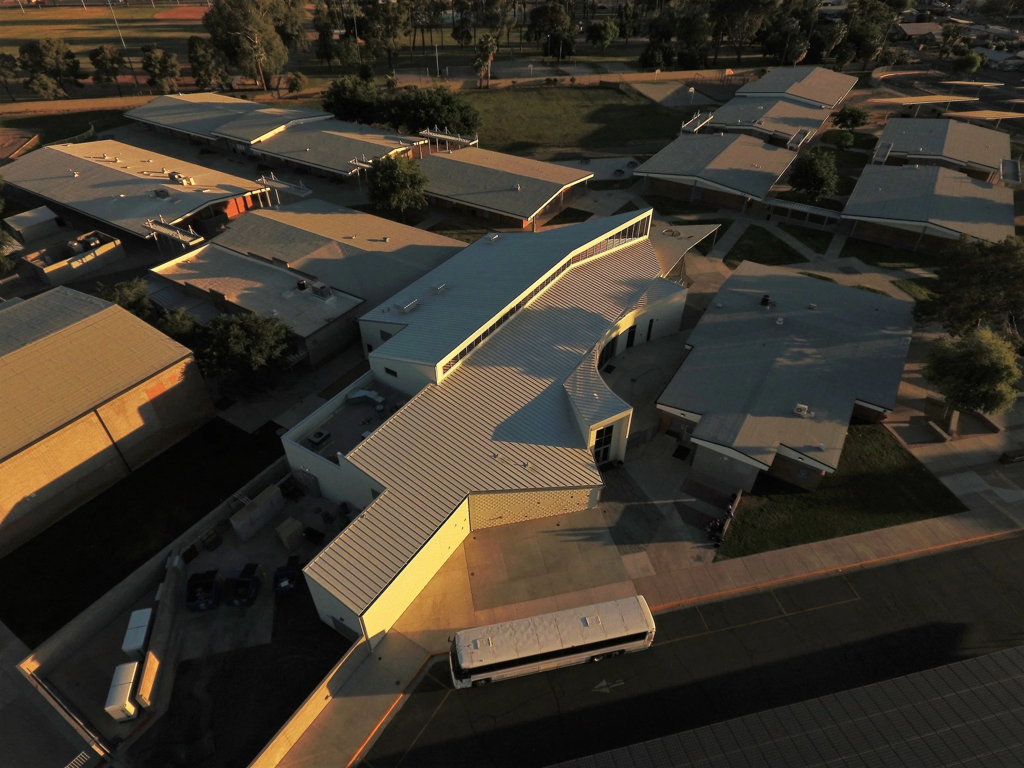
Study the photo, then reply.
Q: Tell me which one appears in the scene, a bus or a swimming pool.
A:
bus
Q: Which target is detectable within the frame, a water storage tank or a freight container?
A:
freight container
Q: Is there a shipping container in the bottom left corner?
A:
Yes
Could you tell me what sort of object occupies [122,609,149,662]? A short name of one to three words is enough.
shipping container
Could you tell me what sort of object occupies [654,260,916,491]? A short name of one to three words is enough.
building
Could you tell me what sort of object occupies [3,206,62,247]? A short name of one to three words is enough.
shed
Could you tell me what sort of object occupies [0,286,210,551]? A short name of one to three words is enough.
building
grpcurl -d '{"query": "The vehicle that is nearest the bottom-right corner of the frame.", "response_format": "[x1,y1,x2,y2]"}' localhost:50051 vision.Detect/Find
[449,601,656,691]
